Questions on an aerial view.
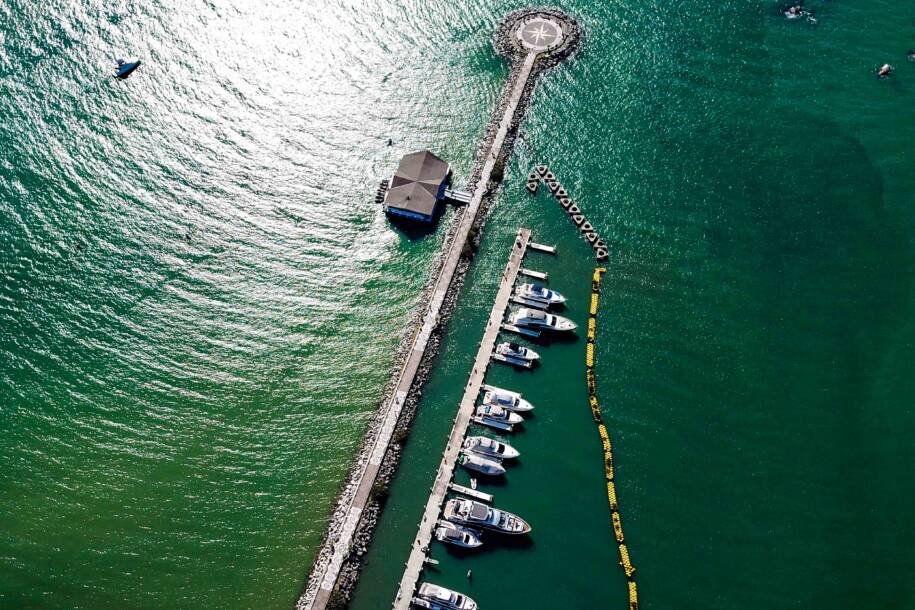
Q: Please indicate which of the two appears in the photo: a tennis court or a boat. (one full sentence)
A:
Of the two, only a boat appears.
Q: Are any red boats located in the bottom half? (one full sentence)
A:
No, in the bottom half there is no red boat.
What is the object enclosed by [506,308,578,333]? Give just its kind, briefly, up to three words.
boat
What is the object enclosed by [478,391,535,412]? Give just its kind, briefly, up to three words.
boat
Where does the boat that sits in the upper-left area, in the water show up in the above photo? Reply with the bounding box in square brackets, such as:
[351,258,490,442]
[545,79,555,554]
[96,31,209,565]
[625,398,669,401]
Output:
[110,60,139,76]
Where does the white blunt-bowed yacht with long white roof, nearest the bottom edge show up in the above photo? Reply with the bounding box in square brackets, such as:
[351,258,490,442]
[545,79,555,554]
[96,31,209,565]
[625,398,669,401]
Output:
[415,576,478,610]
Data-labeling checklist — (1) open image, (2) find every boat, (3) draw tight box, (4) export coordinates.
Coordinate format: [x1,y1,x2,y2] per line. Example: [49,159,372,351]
[458,454,505,473]
[478,391,535,412]
[506,308,578,333]
[415,576,478,610]
[514,283,567,304]
[494,342,541,361]
[432,526,483,547]
[464,435,521,458]
[110,60,139,76]
[436,500,532,533]
[469,405,525,426]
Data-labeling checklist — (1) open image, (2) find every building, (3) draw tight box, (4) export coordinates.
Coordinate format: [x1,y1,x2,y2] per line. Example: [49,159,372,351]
[386,151,454,226]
